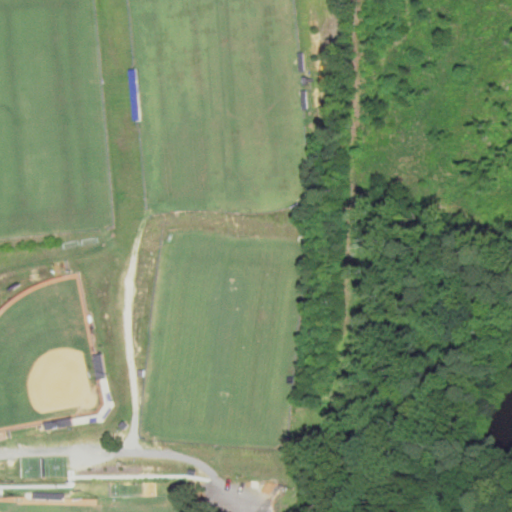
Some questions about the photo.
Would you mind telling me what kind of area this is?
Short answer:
sports ground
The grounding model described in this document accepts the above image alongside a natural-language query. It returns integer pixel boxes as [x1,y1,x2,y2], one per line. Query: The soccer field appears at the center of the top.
[130,0,306,214]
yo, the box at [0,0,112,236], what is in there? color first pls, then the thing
green soccer field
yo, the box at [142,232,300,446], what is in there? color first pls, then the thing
green soccer field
